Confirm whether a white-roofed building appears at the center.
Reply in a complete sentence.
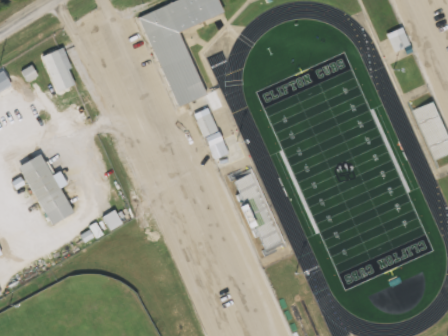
Yes, a white-roofed building can be seen at the center.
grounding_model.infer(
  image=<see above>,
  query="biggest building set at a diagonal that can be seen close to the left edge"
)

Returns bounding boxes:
[20,156,74,225]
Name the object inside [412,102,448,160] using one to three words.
building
